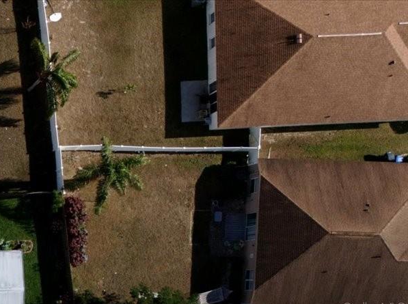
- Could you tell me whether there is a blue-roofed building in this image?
No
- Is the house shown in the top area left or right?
right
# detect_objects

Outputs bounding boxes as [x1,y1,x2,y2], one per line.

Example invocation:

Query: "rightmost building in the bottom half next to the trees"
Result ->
[239,159,408,304]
